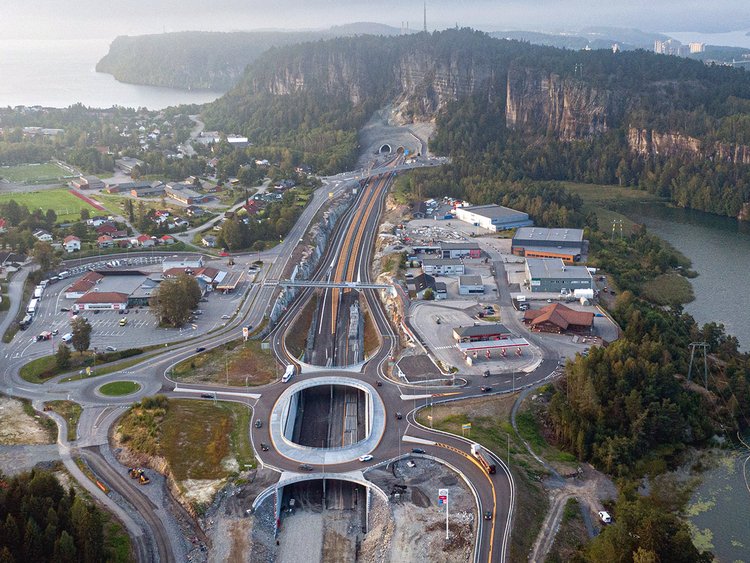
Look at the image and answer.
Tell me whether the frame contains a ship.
No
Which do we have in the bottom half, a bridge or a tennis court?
bridge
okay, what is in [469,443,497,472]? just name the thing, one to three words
truck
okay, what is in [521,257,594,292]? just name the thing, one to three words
building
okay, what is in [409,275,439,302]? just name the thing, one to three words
house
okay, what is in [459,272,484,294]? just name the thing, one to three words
building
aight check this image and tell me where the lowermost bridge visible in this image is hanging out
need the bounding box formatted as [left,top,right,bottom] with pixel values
[246,325,404,531]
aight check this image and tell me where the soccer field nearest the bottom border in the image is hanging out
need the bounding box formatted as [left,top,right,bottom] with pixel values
[0,190,103,224]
